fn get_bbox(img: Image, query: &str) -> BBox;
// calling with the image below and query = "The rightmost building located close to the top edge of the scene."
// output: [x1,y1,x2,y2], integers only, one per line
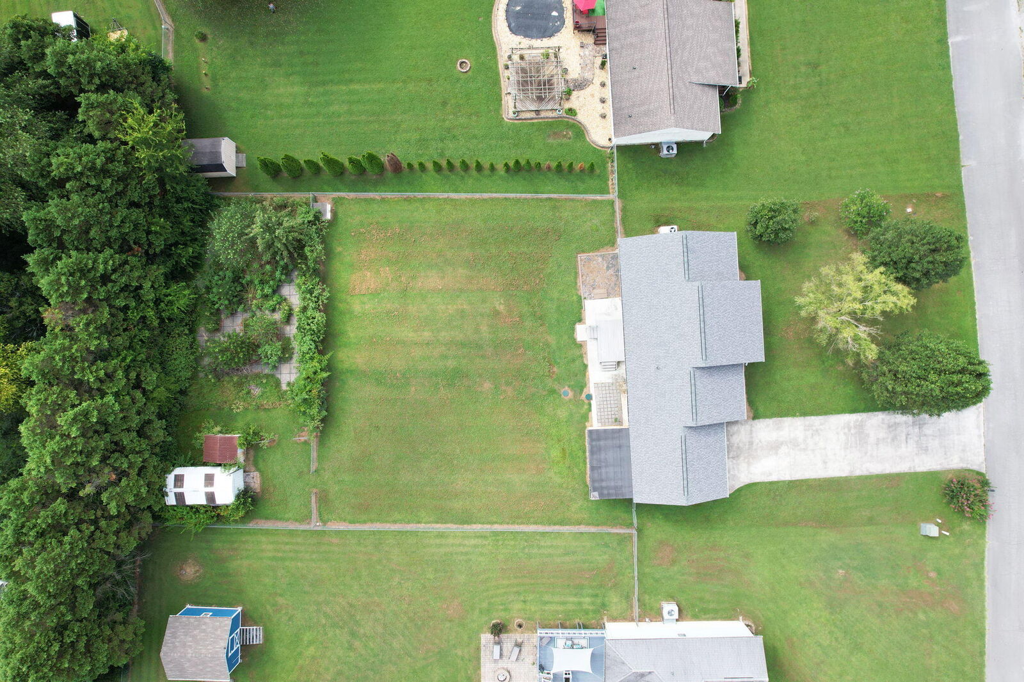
[604,0,739,146]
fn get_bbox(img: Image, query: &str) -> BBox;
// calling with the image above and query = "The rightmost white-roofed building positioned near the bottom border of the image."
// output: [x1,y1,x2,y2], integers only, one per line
[604,614,768,682]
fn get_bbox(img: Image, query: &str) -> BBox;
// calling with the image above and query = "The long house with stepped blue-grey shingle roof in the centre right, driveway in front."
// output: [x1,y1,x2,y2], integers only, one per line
[585,231,766,505]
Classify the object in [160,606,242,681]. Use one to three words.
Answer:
shed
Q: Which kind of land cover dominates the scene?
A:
grass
